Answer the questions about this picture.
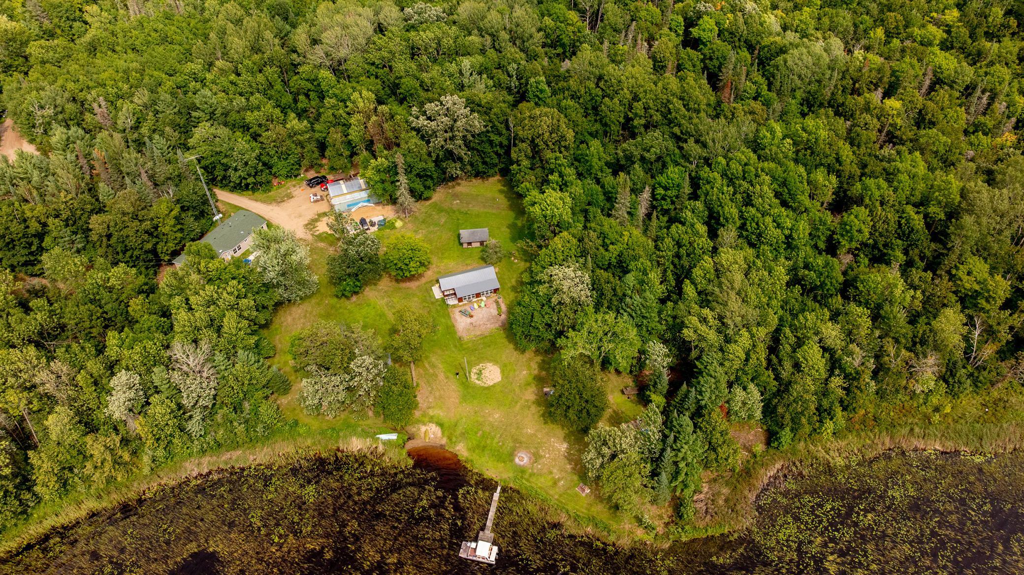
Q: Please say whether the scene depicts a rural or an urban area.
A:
rural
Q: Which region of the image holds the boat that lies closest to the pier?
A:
bottom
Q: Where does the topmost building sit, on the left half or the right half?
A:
left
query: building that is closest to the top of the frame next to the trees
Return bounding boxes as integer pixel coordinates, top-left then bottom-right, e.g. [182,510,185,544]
[326,174,384,212]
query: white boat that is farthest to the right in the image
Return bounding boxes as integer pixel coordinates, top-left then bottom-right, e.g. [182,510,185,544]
[460,542,500,565]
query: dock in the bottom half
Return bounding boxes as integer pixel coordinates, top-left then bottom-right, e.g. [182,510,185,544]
[478,484,501,547]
